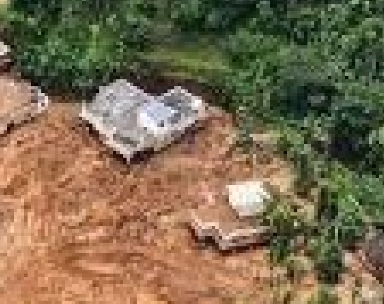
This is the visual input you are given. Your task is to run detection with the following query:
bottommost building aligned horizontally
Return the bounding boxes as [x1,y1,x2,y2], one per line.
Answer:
[189,201,271,248]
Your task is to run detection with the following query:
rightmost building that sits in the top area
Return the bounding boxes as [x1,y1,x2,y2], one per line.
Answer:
[84,77,205,163]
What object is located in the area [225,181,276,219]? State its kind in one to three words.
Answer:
shed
